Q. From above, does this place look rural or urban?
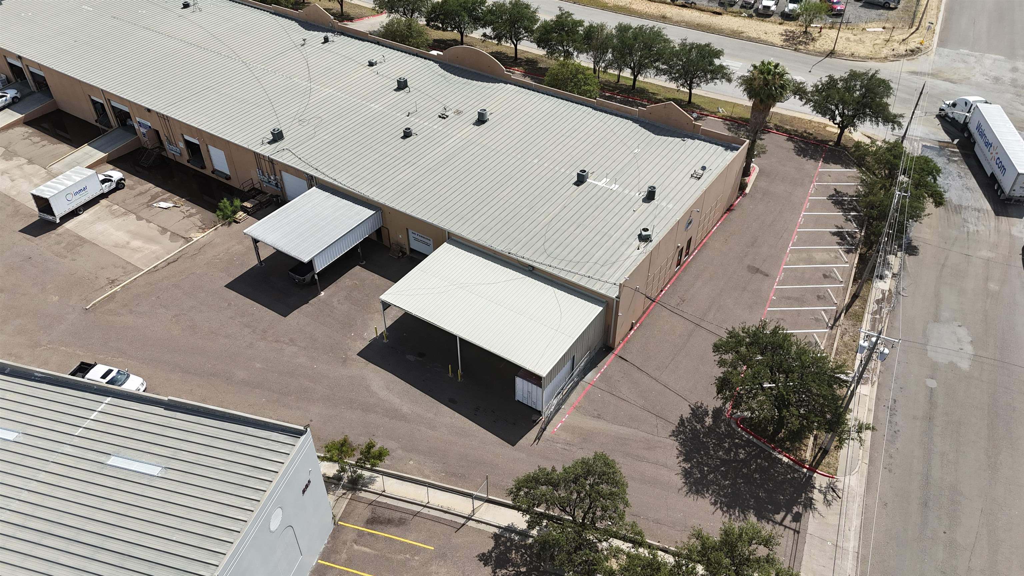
urban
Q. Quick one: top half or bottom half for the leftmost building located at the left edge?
bottom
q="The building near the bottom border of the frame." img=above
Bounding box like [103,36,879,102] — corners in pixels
[0,359,333,576]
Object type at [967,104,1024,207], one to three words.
trailer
